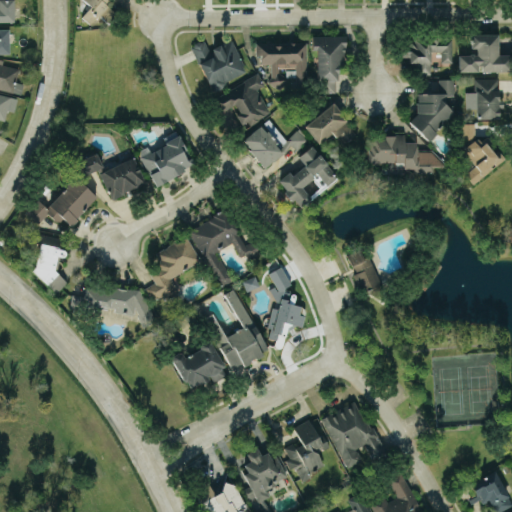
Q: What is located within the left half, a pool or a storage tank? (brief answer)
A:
pool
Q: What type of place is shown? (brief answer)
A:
residential area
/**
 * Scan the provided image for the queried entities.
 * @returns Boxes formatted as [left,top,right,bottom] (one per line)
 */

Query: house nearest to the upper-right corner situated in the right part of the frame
[460,34,511,73]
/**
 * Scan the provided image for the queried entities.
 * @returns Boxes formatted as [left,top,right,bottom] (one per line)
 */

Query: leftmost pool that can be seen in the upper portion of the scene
[89,133,120,160]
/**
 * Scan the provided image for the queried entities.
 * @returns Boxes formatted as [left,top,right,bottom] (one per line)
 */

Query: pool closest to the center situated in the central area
[220,244,249,275]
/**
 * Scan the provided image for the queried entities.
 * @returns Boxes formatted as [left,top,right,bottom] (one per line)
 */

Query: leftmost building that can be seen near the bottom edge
[204,482,250,512]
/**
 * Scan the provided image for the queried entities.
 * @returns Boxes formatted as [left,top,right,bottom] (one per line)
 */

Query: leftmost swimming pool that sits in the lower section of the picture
[99,316,126,340]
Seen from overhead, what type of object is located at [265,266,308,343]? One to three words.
house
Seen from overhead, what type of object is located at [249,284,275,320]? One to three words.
swimming pool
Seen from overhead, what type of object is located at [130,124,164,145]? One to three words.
swimming pool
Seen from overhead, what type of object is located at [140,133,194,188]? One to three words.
house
